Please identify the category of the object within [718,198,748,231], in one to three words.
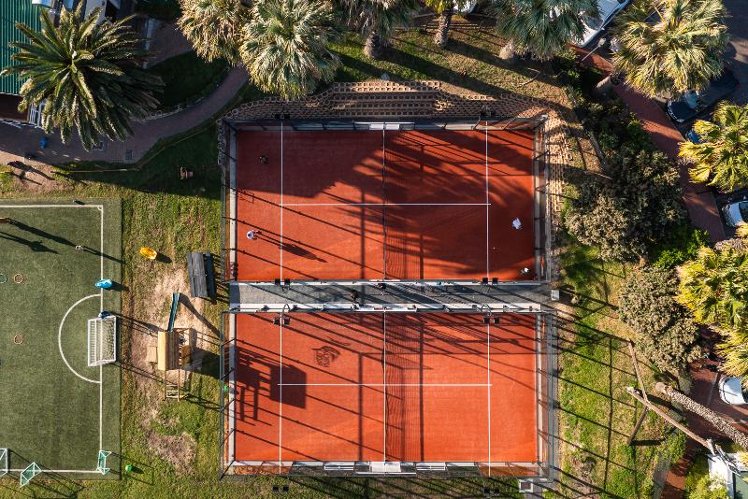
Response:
car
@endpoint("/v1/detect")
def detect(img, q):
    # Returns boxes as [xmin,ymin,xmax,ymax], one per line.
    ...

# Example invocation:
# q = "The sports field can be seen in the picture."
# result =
[0,199,123,480]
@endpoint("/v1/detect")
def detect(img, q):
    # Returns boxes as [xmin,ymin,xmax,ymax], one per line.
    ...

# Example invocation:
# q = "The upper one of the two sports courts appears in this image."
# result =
[223,118,546,293]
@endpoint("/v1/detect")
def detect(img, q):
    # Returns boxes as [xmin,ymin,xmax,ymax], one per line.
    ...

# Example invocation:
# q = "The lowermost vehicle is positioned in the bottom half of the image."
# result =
[719,376,748,410]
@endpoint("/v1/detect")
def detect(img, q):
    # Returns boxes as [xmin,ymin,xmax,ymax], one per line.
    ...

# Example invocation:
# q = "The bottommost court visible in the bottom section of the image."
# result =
[224,298,549,476]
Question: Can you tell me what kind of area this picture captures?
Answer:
sports ground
